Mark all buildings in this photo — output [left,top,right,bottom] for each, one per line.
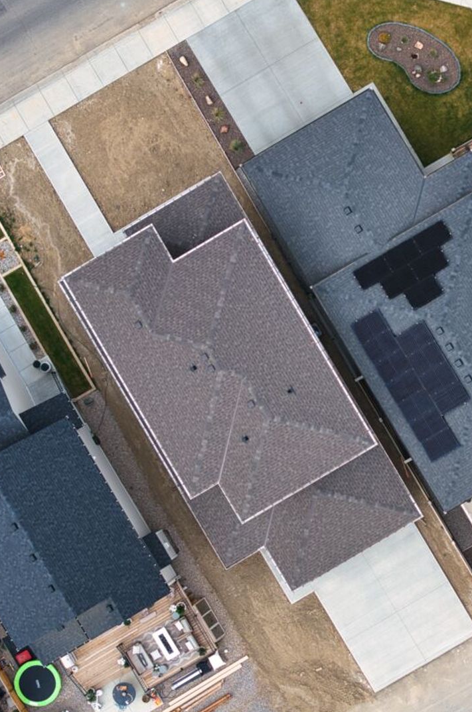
[239,87,472,514]
[57,170,424,593]
[0,330,178,670]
